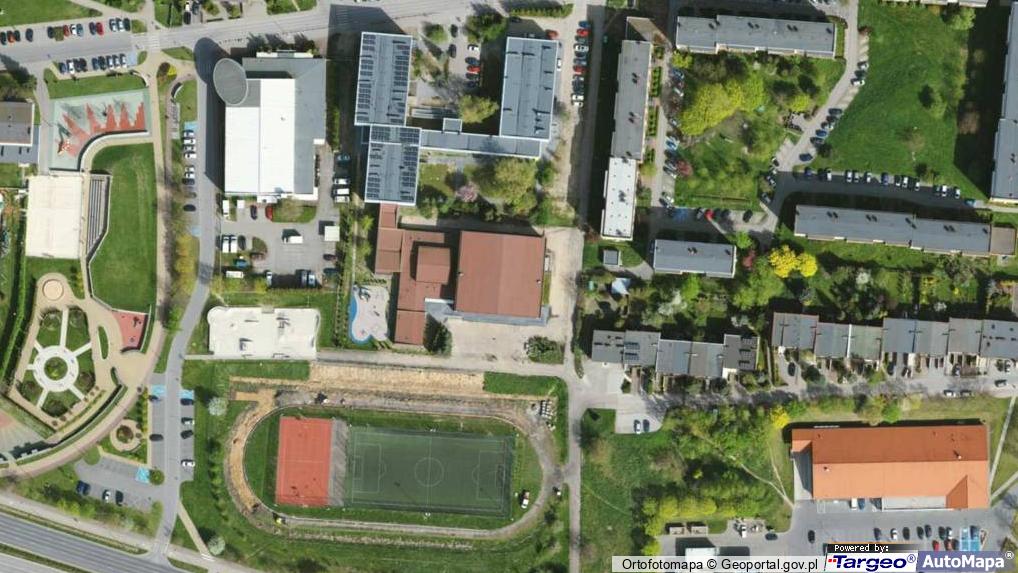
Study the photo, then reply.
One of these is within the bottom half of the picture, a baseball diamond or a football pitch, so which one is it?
football pitch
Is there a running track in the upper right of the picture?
No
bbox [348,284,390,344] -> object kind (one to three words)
playground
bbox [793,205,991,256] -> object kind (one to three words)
building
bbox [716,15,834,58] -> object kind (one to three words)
building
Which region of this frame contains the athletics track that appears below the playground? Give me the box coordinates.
[227,391,569,547]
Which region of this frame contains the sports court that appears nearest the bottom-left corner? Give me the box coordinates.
[276,417,331,505]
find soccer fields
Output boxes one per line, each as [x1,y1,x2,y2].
[344,425,516,518]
